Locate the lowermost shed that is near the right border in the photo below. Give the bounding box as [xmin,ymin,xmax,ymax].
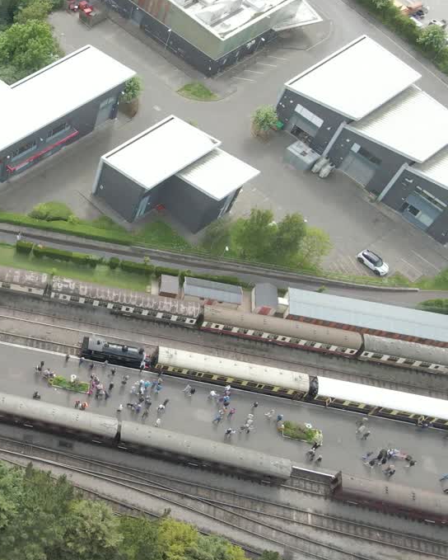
[280,287,448,347]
